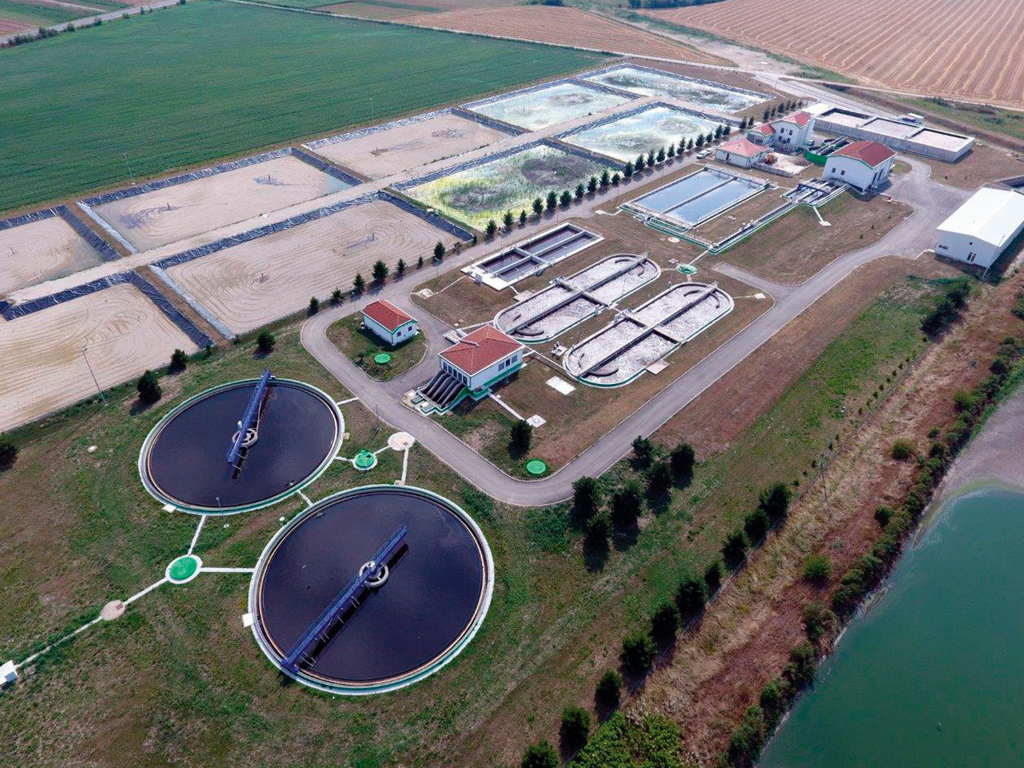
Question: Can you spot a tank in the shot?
Yes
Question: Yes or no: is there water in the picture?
Yes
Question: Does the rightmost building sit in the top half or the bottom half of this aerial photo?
top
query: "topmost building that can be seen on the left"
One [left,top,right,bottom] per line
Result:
[360,299,421,345]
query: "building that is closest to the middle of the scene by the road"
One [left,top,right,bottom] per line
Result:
[398,322,528,419]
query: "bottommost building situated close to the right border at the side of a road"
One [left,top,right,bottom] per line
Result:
[933,188,1024,269]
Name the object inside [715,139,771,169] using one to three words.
house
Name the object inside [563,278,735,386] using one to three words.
storage tank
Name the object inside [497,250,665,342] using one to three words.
storage tank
